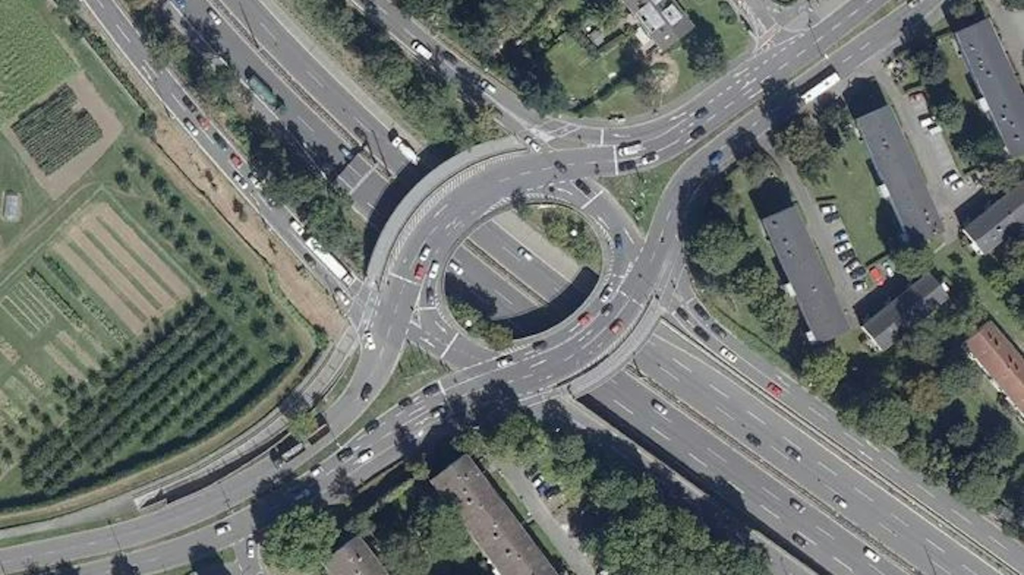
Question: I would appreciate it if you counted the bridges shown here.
2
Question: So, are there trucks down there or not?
Yes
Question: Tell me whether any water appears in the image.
No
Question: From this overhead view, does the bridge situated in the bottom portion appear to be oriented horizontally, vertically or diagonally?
diagonally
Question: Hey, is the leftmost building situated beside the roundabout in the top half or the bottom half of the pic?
bottom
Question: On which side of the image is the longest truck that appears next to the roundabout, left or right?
left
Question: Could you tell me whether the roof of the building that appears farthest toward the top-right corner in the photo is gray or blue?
gray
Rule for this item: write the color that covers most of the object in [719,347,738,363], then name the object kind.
white car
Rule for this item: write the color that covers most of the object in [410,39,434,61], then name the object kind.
white vehicle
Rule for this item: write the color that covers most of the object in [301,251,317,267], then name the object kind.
gray car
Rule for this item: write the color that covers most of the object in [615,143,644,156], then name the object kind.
white vehicle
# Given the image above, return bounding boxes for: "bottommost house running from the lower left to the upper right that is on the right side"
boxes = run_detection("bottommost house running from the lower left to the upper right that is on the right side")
[859,275,949,351]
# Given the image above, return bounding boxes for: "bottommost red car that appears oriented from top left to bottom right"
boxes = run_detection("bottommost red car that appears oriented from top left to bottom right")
[765,382,783,397]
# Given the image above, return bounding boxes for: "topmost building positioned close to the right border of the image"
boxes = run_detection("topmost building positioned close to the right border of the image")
[951,18,1024,164]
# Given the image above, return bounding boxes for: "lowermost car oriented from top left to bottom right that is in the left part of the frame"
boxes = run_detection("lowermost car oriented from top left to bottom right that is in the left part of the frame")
[334,288,350,306]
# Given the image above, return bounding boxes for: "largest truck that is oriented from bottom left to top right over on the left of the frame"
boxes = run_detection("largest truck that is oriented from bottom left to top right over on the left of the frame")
[277,428,330,467]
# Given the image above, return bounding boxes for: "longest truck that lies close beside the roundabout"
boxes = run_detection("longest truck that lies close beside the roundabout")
[303,239,356,286]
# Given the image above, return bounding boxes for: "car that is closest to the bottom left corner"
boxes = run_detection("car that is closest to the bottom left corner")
[213,522,233,536]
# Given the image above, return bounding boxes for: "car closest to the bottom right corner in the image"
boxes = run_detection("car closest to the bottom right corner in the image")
[862,546,880,562]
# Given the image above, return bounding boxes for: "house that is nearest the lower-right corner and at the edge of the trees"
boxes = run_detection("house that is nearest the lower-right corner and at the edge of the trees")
[963,322,1024,414]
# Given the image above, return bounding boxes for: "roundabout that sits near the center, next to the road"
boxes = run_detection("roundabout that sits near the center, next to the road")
[349,128,654,395]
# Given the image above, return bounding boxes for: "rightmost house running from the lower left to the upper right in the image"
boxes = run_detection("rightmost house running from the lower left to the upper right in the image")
[958,185,1024,254]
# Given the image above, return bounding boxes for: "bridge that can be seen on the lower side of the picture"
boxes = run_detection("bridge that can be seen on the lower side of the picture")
[554,297,663,400]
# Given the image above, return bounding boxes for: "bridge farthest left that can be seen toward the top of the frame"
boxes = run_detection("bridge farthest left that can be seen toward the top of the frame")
[366,134,529,282]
